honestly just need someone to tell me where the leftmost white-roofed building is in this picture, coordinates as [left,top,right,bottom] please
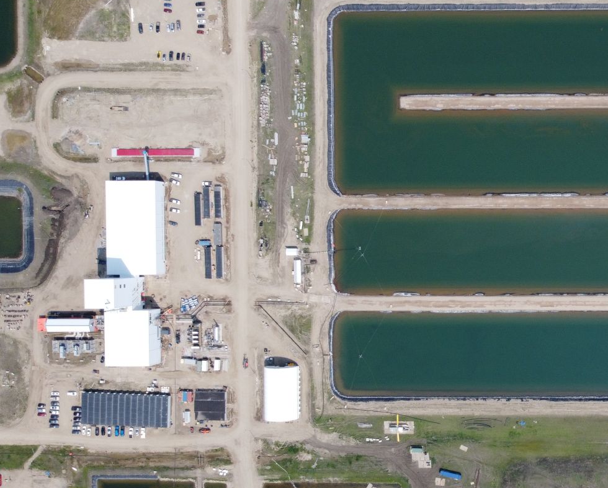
[44,318,99,332]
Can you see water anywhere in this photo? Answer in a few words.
Yes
